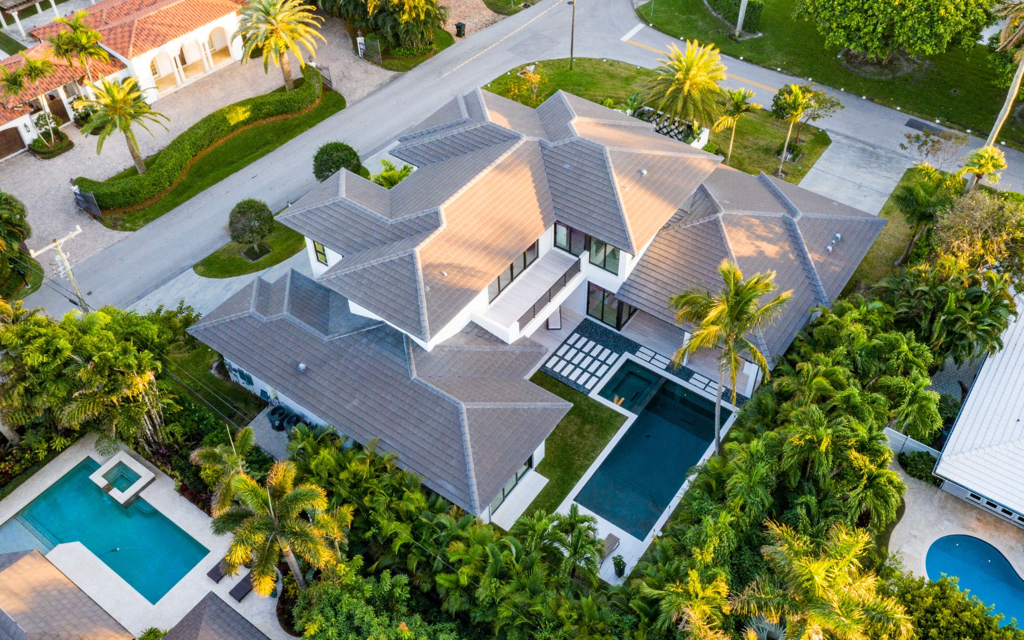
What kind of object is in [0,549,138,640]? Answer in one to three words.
house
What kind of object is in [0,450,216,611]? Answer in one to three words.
swimming pool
